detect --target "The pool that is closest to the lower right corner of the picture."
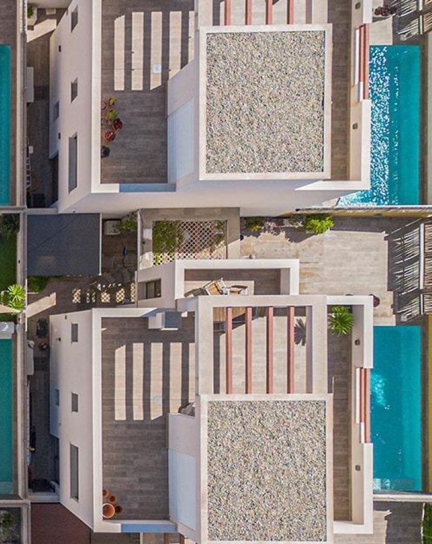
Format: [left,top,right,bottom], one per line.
[359,324,422,488]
